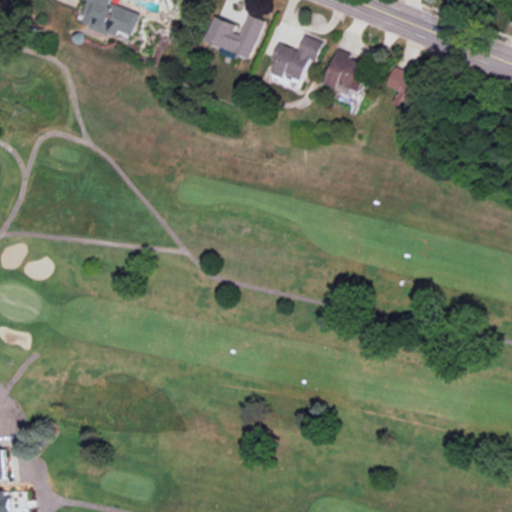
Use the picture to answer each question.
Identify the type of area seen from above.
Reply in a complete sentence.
The area seen from above is a golf course.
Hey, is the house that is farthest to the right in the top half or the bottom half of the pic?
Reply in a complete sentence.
The top half of the photo is where the house that is farthest to the right is.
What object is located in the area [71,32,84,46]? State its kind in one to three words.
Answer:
swimming pool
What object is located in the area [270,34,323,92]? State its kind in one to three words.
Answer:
house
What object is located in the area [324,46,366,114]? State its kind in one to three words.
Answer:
house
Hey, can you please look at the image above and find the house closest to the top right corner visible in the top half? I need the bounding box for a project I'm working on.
[386,66,408,108]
